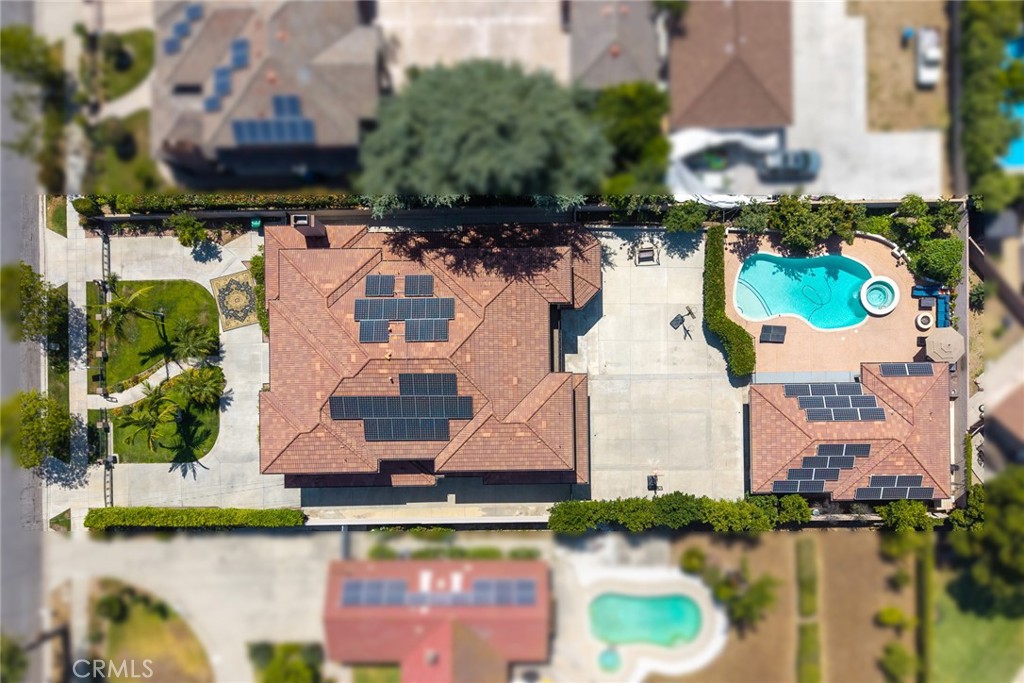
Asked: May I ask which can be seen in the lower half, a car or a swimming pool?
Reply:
swimming pool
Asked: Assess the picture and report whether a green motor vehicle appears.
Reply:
No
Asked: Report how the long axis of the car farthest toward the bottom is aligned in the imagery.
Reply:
from left to right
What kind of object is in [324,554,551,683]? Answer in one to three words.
house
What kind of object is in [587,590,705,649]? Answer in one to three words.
swimming pool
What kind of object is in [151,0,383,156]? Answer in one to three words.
house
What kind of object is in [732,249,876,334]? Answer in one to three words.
swimming pool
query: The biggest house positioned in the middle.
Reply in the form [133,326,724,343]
[259,214,601,490]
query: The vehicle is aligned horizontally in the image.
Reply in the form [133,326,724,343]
[754,153,818,183]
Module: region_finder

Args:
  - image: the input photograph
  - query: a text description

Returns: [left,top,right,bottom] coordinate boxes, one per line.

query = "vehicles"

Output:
[912,27,946,89]
[754,153,818,183]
